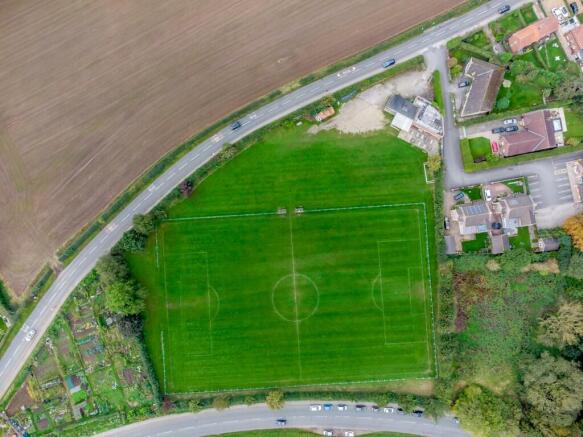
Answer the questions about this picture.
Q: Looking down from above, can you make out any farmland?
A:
Yes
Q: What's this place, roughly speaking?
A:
sports ground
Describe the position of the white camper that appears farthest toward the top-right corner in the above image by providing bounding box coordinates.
[550,7,568,19]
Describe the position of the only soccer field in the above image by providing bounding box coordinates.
[126,122,440,402]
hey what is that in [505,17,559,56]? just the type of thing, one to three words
house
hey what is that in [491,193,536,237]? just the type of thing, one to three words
house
